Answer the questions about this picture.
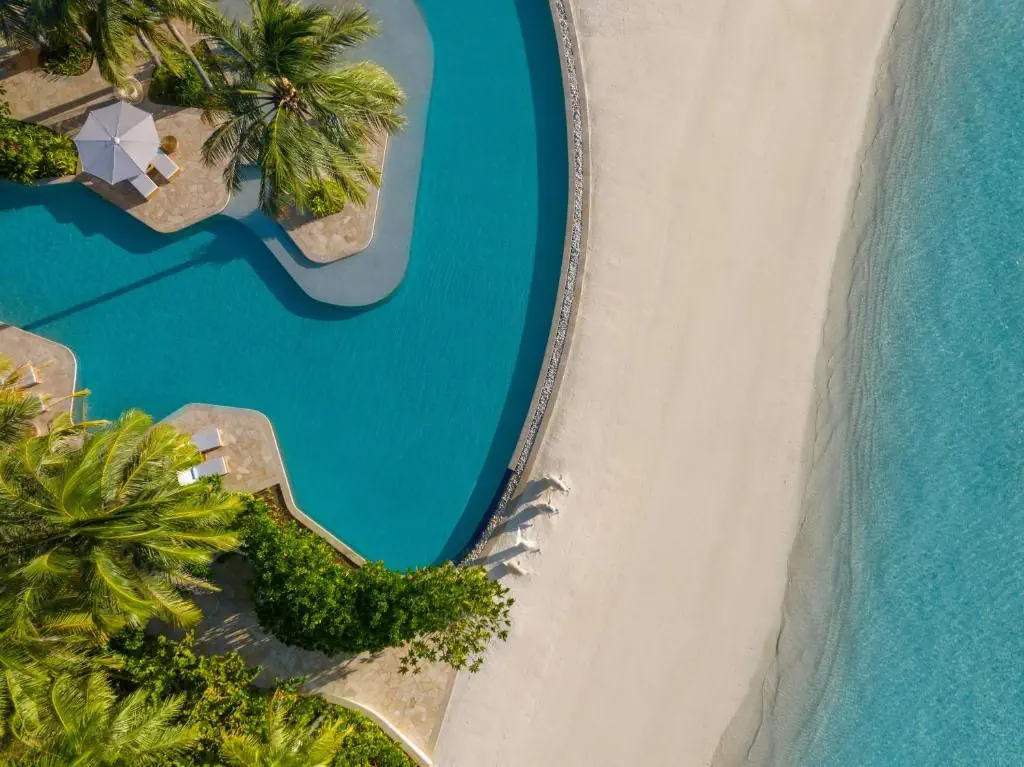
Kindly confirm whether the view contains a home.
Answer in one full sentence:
No, the photo shows no home.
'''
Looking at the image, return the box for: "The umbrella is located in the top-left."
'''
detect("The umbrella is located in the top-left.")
[73,98,161,186]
